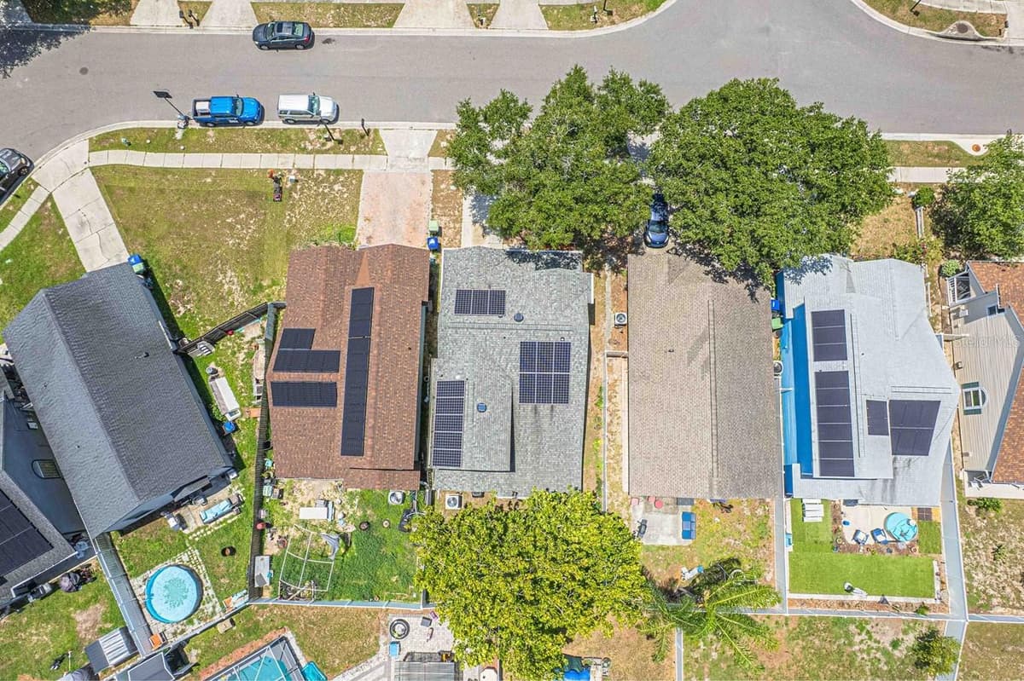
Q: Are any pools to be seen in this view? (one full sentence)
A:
Yes, there's a pool here.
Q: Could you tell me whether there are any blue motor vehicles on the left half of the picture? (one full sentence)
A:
Yes, a blue motor vehicle shows up on the left half of the picture.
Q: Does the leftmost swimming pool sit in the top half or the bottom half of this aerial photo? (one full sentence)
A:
The leftmost swimming pool is in the bottom half of the image.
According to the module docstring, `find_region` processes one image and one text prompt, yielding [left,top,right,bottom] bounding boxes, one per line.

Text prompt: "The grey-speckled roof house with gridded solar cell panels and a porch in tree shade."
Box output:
[430,246,597,496]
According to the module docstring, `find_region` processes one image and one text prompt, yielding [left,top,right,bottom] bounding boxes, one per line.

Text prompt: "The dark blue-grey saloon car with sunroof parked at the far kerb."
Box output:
[251,20,315,52]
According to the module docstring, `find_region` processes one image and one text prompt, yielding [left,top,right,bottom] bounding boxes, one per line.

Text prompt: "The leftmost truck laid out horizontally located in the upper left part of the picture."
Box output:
[189,96,266,129]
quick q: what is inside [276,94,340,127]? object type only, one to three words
car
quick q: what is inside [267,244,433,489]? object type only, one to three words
house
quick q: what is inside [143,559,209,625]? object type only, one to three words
swimming pool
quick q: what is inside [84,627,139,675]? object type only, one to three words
shed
